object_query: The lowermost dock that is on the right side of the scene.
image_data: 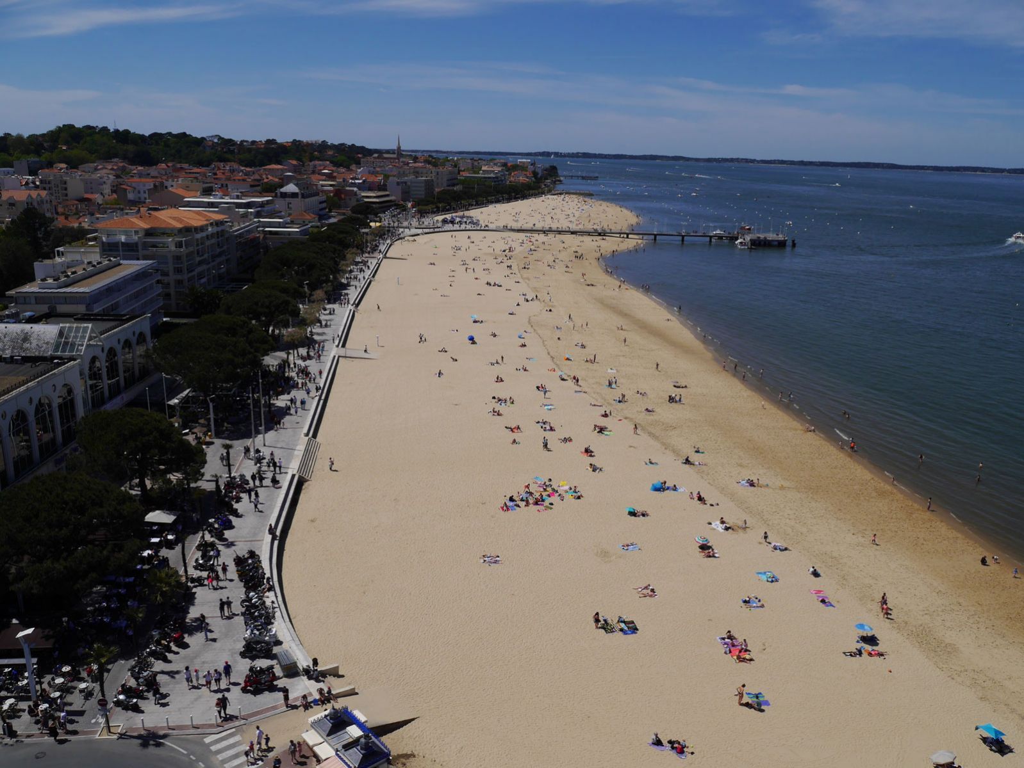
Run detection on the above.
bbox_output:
[487,214,787,250]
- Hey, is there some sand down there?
Yes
